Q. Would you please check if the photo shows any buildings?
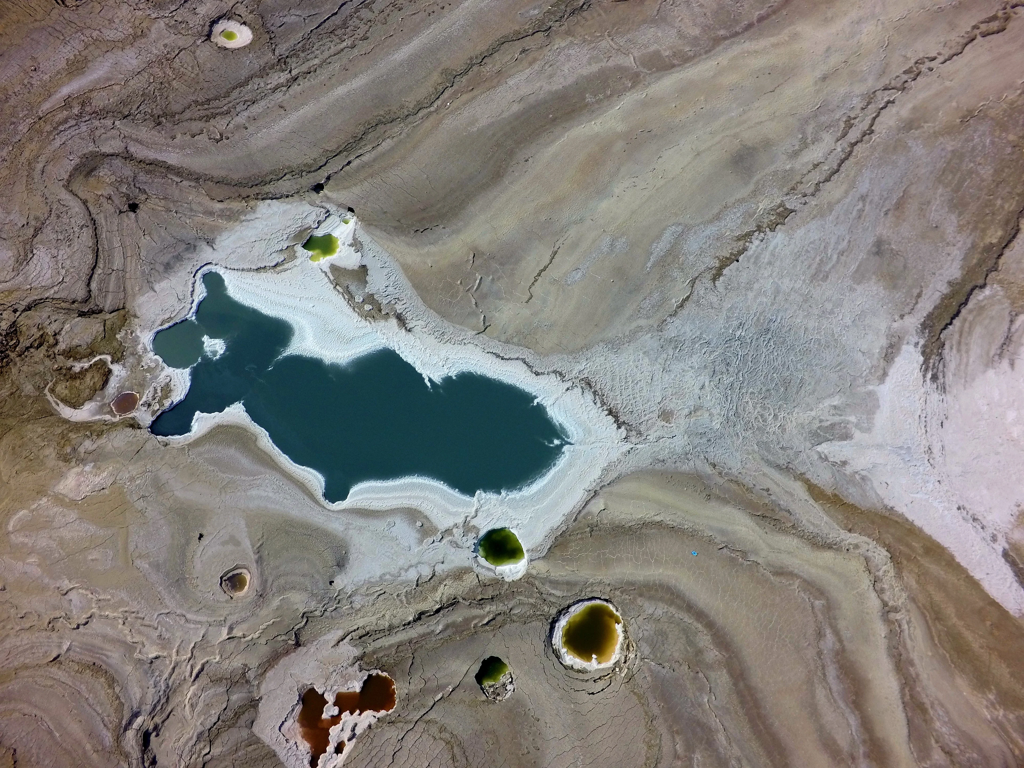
No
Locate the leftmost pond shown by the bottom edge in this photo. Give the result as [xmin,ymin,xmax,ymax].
[302,677,393,760]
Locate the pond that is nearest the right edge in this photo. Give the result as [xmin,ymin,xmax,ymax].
[569,610,612,656]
